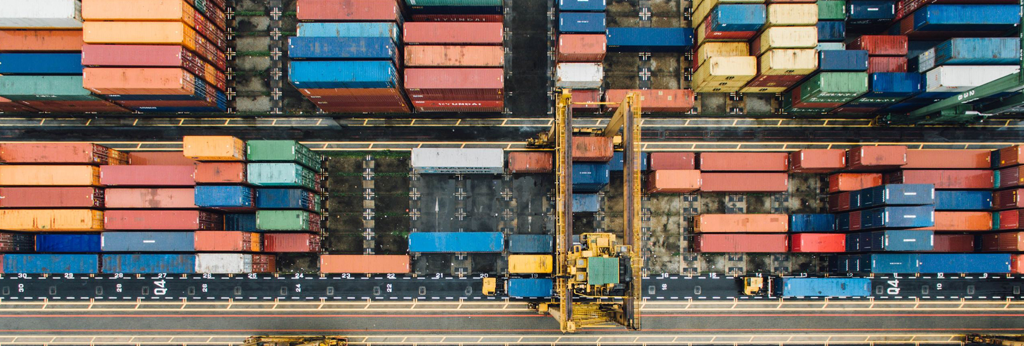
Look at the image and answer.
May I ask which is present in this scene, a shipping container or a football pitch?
shipping container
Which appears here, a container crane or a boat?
container crane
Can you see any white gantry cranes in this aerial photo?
No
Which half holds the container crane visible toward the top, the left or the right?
right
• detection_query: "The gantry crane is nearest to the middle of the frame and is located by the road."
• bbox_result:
[525,92,645,332]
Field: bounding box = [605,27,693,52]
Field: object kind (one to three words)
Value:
shipping container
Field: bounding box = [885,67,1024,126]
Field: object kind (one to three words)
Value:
container crane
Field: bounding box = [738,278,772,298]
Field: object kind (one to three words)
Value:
vehicle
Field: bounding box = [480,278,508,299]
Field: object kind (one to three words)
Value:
truck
